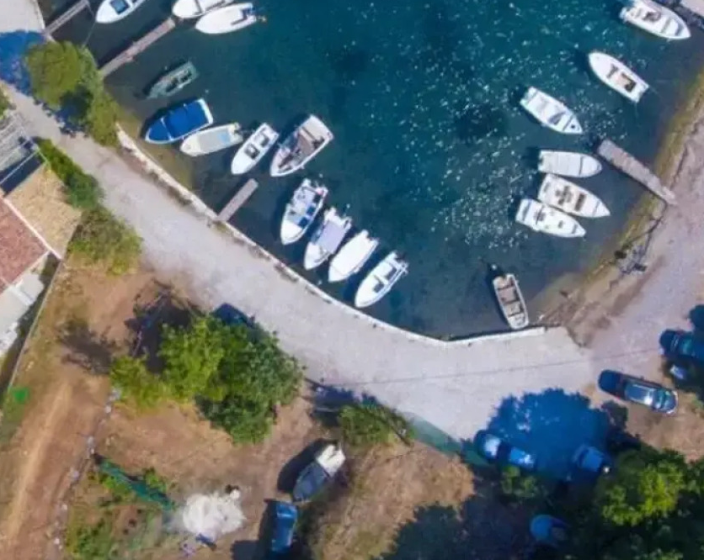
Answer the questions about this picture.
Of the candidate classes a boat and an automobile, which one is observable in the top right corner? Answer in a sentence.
It is a boat that can be seen in the top right corner.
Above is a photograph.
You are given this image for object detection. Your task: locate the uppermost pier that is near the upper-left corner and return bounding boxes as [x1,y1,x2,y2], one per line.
[46,0,92,33]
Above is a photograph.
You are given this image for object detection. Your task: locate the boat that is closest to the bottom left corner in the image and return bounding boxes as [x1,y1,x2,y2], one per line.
[292,441,347,503]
